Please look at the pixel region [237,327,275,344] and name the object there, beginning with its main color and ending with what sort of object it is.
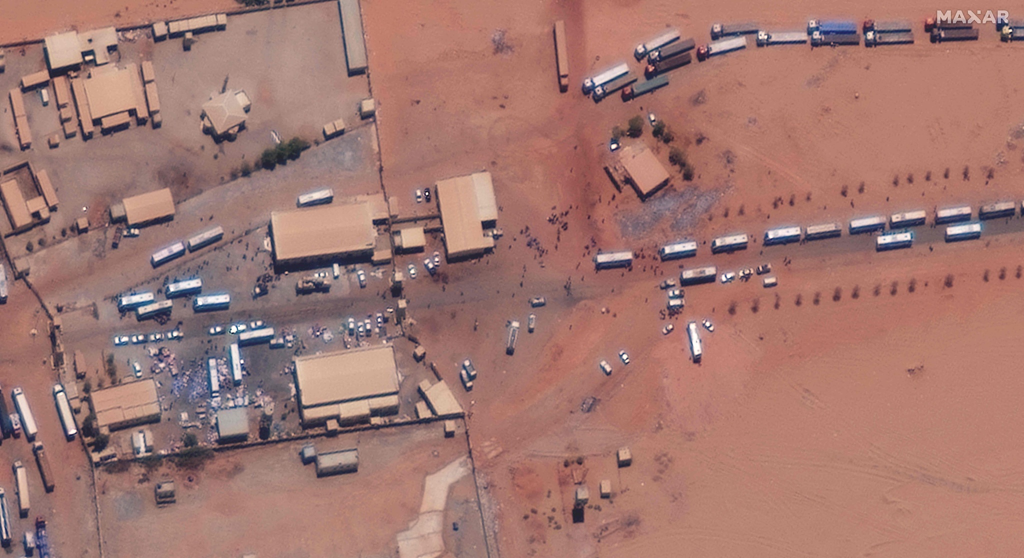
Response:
white vehicle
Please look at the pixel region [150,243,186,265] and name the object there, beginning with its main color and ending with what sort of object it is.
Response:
white bus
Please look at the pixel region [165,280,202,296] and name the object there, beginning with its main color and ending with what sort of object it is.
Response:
white vehicle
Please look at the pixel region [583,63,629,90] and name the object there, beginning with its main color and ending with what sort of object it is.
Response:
white truck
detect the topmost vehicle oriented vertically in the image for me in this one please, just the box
[555,21,569,87]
